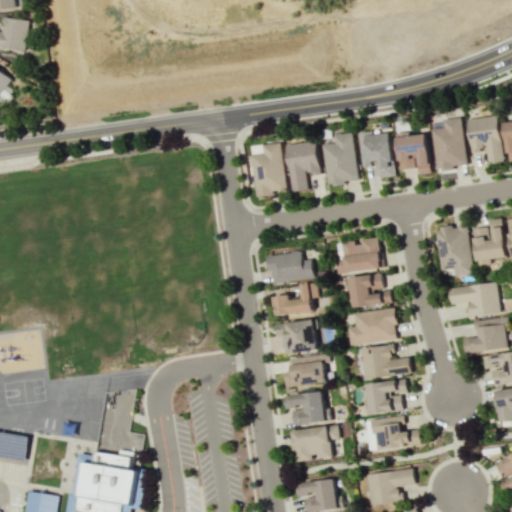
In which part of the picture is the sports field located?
left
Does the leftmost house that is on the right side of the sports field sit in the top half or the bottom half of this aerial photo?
top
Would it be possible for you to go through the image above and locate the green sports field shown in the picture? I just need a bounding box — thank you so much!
[0,151,227,378]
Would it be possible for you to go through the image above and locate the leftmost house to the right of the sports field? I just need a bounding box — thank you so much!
[250,142,288,199]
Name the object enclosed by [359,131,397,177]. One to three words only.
house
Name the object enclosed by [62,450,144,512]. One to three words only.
building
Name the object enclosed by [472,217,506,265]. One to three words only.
house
